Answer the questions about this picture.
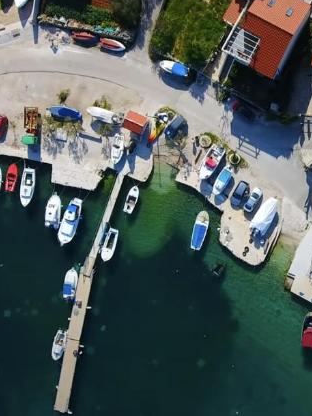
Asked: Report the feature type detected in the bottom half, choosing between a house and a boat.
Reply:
boat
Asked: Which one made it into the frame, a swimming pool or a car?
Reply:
car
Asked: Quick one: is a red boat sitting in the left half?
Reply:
Yes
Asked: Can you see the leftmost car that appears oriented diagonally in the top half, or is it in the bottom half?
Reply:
top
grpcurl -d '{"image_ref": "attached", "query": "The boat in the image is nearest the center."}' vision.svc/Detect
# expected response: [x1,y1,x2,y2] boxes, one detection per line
[123,182,142,216]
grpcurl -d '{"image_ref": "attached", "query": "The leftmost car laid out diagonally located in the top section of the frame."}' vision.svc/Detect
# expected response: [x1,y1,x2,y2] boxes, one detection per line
[163,112,187,139]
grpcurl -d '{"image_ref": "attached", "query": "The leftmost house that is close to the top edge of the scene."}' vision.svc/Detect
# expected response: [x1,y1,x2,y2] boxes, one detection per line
[222,0,245,30]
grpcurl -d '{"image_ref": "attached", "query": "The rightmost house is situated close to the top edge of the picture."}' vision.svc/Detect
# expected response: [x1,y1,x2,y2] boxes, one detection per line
[237,0,311,83]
